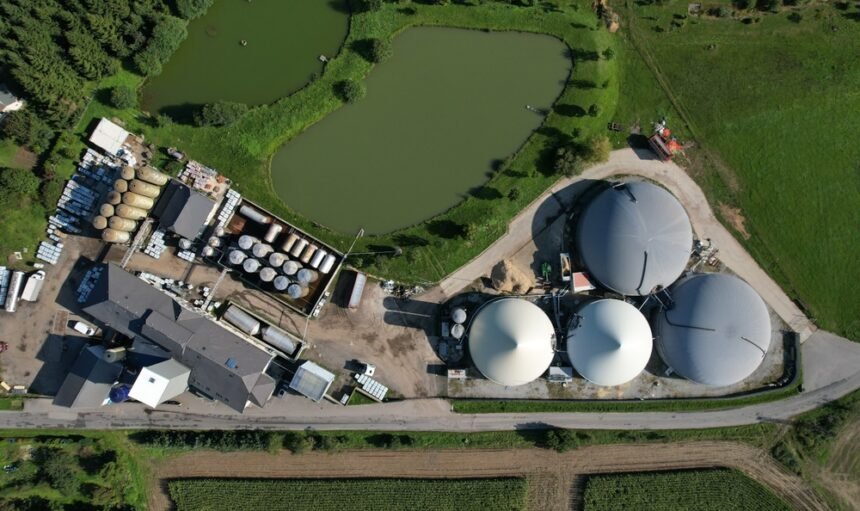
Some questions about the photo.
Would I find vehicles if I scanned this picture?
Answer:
Yes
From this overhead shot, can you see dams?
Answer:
No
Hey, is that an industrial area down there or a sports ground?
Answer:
industrial area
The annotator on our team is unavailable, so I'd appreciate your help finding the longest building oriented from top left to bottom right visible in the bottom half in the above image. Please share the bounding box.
[81,261,278,414]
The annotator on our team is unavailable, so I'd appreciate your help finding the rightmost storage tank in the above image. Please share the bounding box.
[651,271,771,387]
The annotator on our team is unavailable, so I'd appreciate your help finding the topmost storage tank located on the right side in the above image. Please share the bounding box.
[574,180,693,296]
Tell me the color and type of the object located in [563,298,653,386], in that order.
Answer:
white storage tank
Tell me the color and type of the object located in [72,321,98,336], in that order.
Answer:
white vehicle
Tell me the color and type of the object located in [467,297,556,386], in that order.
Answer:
white storage tank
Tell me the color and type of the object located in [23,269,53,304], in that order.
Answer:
white truck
